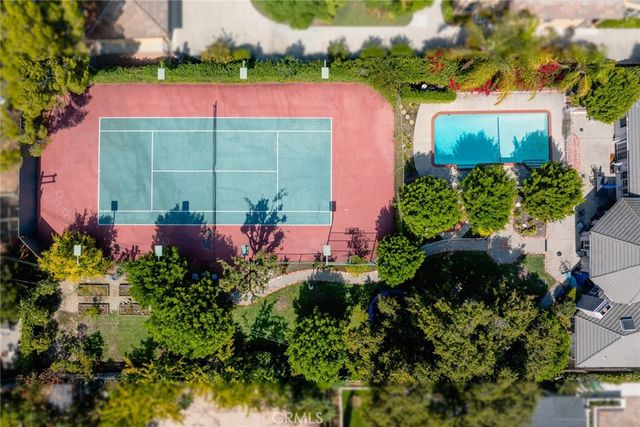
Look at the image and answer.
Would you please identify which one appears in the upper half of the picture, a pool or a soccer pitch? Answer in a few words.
pool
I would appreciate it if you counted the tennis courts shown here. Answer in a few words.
1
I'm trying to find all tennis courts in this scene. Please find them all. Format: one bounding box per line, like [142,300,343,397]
[41,62,394,263]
